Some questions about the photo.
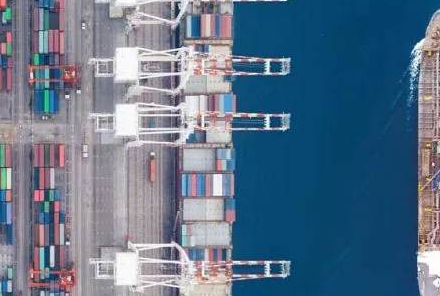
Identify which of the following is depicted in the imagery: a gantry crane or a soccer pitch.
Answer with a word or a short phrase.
gantry crane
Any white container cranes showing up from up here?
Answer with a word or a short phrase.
Yes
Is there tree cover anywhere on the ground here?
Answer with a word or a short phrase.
No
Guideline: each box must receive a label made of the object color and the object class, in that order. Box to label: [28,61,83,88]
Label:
red container crane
